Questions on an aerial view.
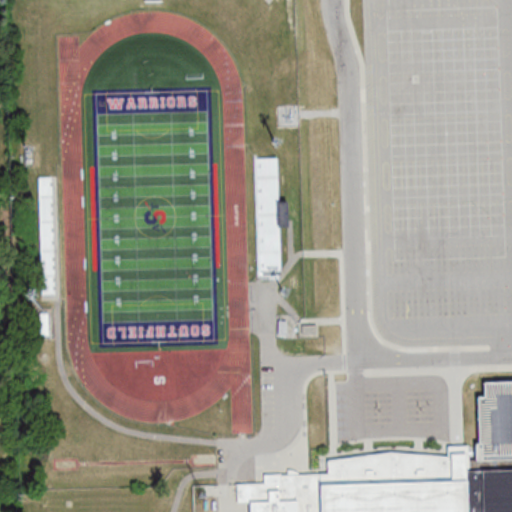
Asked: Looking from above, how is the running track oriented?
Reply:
up and down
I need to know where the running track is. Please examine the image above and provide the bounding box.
[57,12,253,434]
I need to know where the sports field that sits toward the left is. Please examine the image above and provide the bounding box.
[82,33,229,353]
